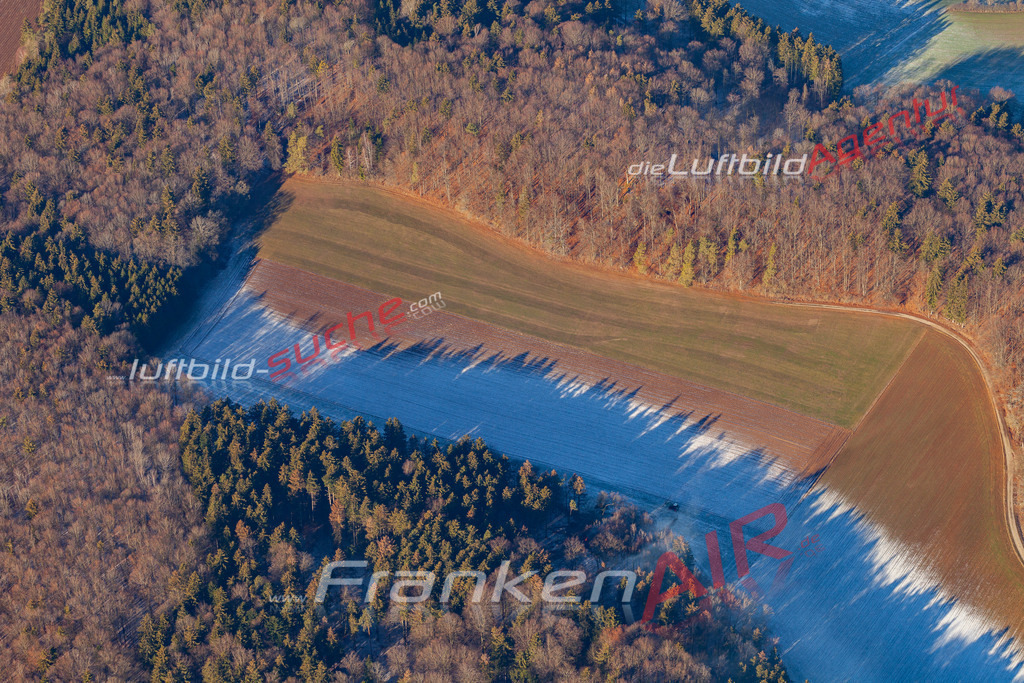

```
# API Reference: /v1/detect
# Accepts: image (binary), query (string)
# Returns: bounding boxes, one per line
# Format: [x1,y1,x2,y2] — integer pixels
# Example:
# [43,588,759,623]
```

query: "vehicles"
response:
[664,500,679,512]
